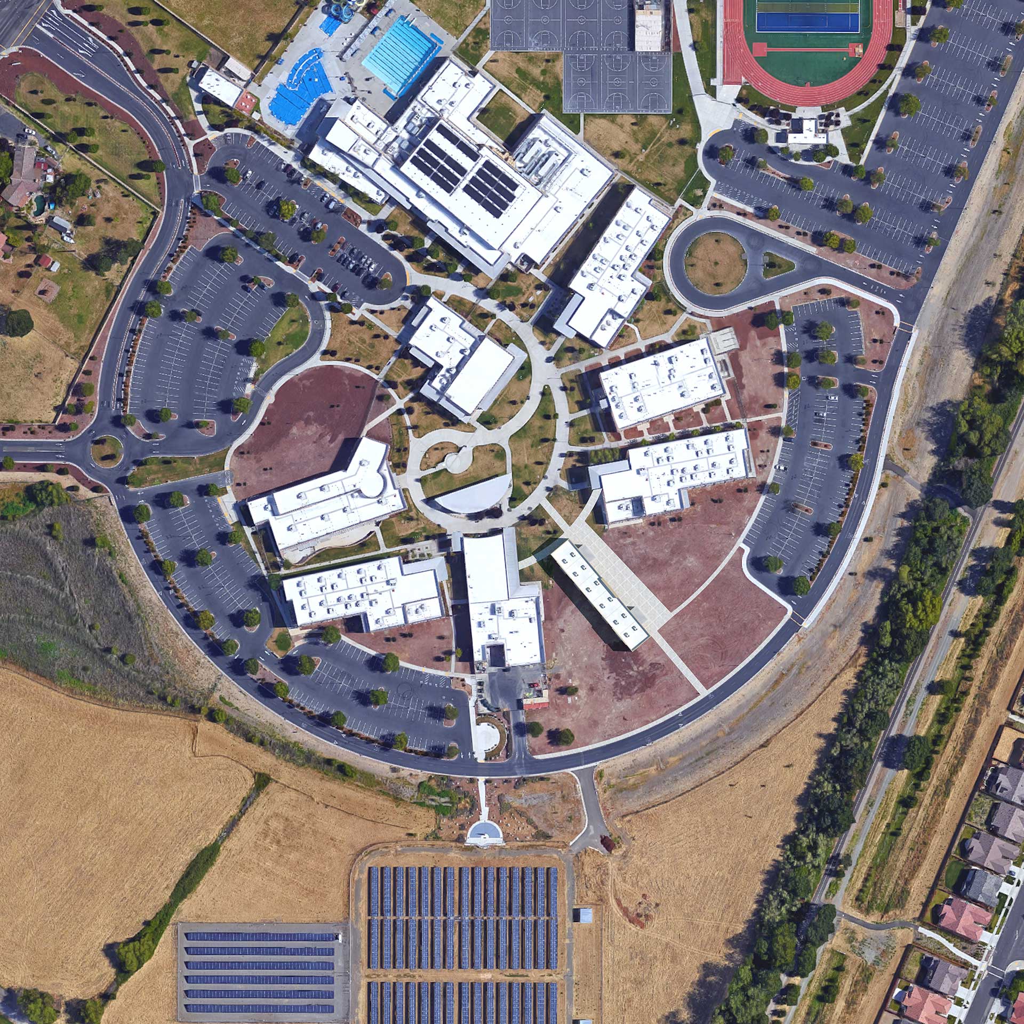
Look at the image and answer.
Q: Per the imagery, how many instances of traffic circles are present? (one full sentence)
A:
Altogether the scene contains 2 traffic circles.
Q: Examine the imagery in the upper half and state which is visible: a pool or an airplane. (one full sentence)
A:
You can see a pool in the upper half.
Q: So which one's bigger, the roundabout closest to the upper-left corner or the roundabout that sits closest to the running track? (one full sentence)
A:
The roundabout that sits closest to the running track takes up more space than the roundabout closest to the upper-left corner does.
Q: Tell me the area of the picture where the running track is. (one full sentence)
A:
You can find the running track in the top right area of the picture.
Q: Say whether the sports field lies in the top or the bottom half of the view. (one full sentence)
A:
The sports field sits in the top half of the picture.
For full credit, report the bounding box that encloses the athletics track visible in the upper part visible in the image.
[723,0,893,106]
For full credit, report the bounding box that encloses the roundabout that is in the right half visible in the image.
[672,218,763,310]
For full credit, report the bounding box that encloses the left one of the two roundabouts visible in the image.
[79,423,135,479]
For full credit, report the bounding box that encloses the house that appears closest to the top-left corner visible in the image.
[1,147,42,207]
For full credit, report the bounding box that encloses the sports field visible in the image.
[744,0,873,86]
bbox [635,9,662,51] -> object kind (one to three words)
building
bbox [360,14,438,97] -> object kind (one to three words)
swimming pool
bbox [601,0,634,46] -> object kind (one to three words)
basketball court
